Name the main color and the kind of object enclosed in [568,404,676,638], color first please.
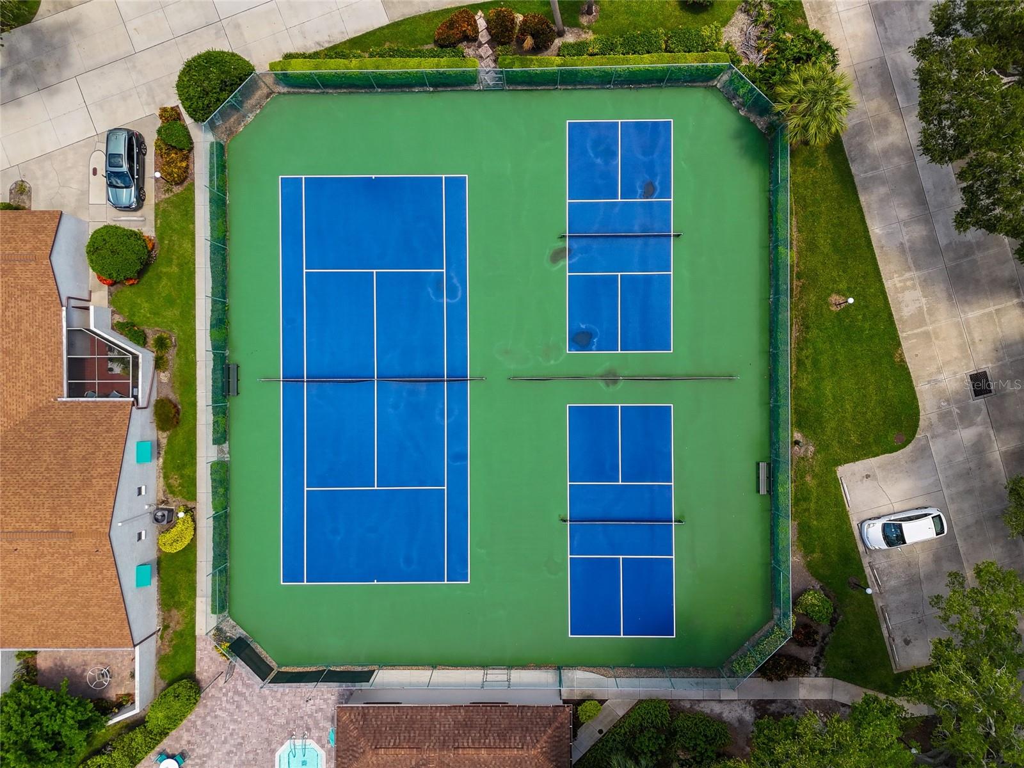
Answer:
blue sports court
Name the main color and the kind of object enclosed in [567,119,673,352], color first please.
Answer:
blue sports court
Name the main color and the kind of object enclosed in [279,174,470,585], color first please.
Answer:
blue tennis court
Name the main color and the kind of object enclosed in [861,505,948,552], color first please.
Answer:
white car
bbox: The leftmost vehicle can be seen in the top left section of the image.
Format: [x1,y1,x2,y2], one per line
[97,127,144,211]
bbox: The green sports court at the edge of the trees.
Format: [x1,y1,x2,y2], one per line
[227,86,771,667]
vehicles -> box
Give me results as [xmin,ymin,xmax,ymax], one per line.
[97,127,144,211]
[861,505,948,552]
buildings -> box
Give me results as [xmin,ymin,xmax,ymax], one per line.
[333,687,574,768]
[0,211,160,648]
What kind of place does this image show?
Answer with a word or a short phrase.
sports ground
